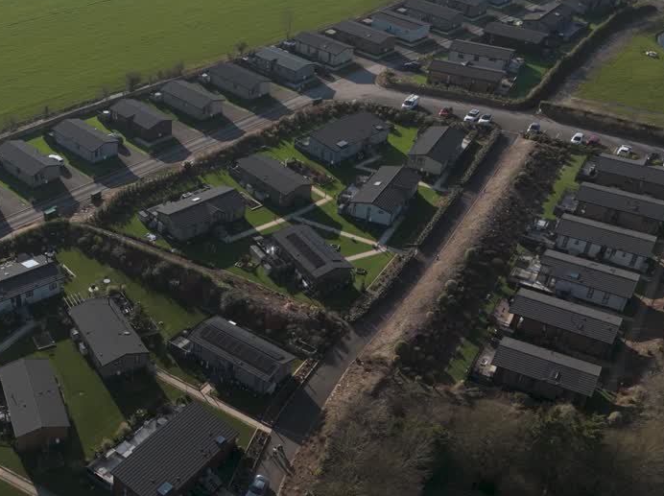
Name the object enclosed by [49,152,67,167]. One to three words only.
car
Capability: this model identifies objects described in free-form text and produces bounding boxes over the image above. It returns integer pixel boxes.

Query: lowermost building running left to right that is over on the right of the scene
[458,337,600,407]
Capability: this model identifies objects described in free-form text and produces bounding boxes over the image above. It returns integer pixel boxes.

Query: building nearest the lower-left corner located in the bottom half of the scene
[0,358,71,449]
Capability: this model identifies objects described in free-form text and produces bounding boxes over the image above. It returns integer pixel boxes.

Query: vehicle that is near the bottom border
[245,473,270,496]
